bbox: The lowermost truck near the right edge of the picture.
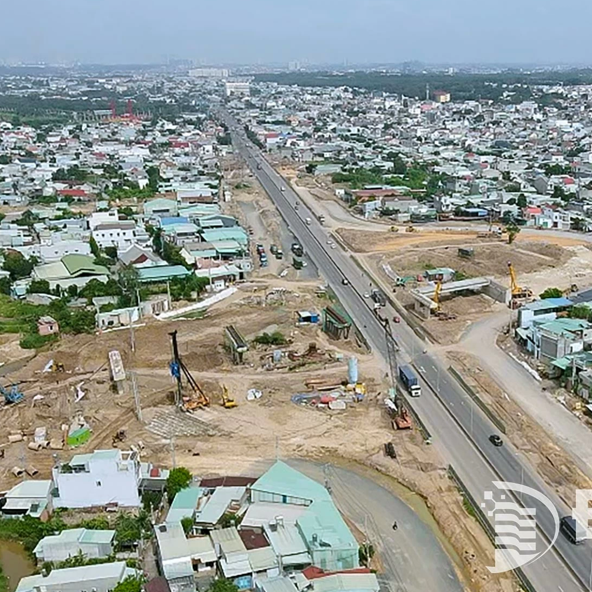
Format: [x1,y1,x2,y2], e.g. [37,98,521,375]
[556,512,585,543]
